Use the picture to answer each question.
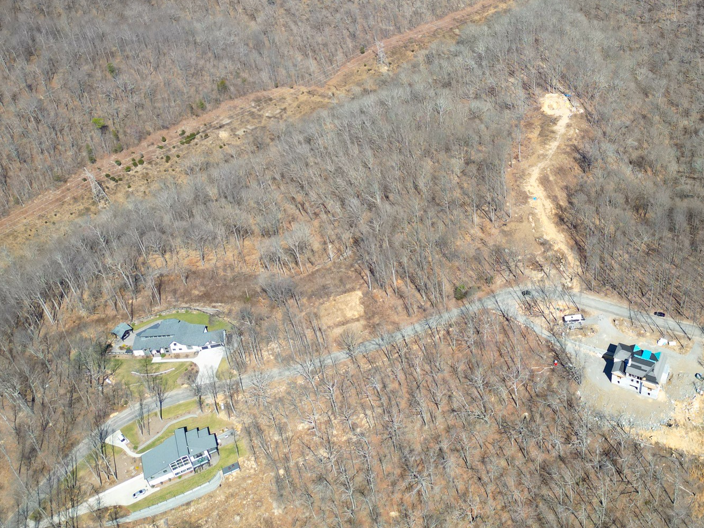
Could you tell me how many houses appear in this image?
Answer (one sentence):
The photo contains 3 houses.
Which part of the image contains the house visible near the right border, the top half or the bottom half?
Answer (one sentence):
You can find the house visible near the right border in the bottom half.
